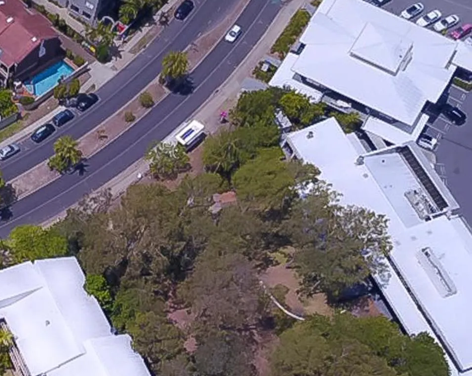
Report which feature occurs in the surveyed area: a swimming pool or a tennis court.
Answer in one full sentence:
Of the two, only a swimming pool appears.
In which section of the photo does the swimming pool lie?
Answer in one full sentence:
The swimming pool appears toward the top left of the photo.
